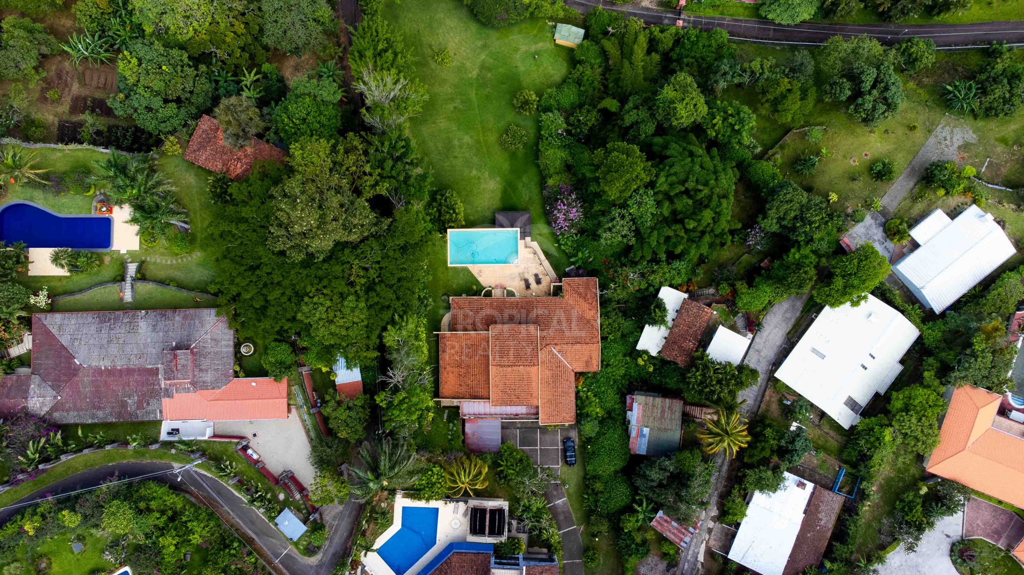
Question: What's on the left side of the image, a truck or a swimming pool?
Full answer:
You can see a swimming pool on the left side of the image.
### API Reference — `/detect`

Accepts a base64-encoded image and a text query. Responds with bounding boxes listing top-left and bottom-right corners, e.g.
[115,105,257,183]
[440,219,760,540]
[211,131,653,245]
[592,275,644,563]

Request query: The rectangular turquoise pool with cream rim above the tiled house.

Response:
[447,228,520,267]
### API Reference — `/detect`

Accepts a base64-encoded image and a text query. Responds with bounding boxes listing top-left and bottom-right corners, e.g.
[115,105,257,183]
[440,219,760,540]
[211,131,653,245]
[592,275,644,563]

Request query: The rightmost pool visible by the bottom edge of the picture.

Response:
[371,502,444,575]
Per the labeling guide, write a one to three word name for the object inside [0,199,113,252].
swimming pool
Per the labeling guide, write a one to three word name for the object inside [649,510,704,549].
shed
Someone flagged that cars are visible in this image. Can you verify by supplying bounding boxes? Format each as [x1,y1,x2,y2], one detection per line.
[563,439,578,469]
